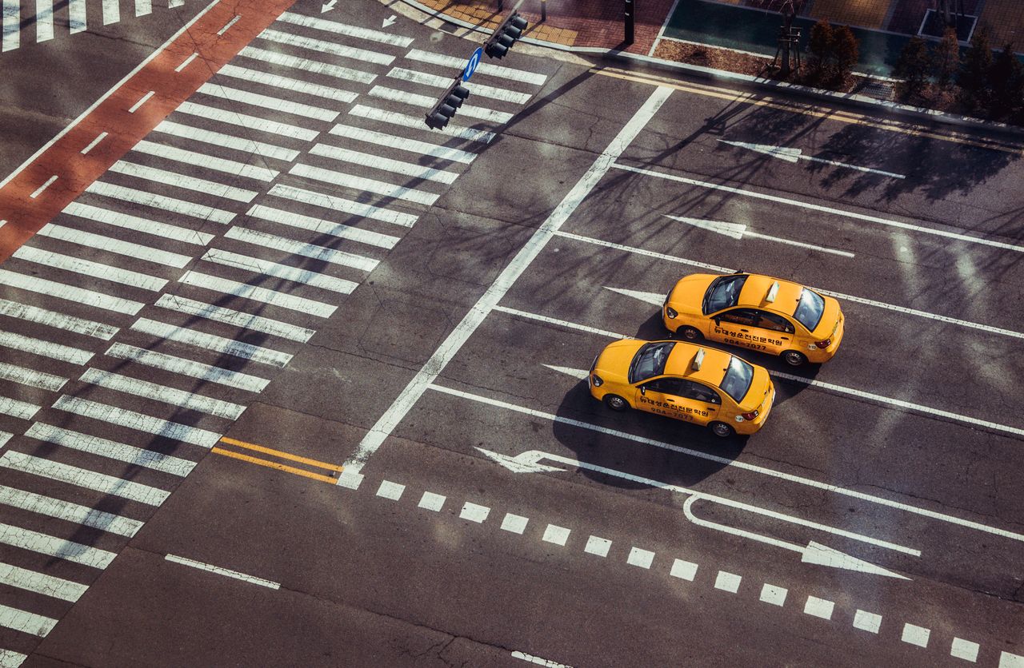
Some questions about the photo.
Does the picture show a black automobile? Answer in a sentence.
No, the picture doesn't show any black automobile.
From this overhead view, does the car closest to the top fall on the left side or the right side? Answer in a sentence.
The car closest to the top is on the right side of the image.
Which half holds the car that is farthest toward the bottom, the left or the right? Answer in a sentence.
The car that is farthest toward the bottom sits on the right side.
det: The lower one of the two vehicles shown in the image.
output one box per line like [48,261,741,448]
[587,331,776,437]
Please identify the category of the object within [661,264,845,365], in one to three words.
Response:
car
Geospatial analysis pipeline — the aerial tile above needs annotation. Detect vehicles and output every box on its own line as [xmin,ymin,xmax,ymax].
[587,331,776,437]
[661,264,845,365]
